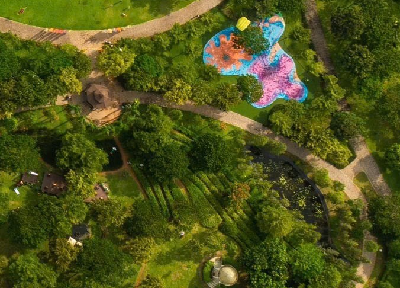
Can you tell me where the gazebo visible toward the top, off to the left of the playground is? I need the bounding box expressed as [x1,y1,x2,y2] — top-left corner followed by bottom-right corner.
[85,84,110,110]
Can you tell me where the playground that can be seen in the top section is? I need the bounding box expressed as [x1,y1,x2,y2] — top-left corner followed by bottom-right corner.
[202,14,308,108]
